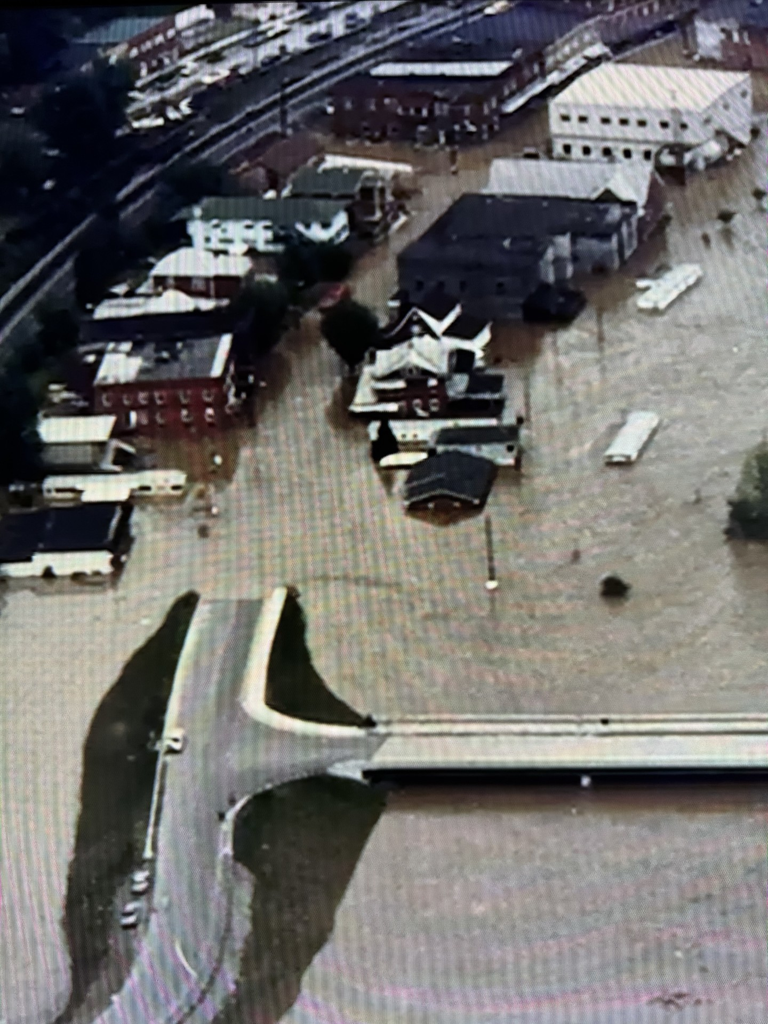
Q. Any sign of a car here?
Yes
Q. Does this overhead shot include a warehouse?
Yes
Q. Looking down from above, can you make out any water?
Yes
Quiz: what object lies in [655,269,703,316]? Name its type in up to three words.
trailer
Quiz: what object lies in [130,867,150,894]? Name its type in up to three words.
car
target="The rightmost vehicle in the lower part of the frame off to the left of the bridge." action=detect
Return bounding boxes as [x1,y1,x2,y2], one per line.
[163,729,184,755]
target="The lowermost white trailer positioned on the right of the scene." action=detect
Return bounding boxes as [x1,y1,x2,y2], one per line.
[605,412,660,466]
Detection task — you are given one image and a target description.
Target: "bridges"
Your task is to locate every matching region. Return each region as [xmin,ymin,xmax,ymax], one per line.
[326,713,768,794]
